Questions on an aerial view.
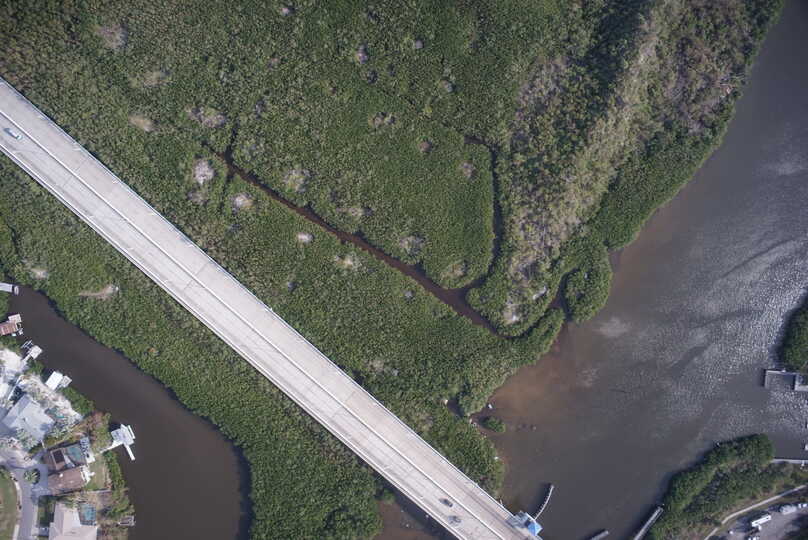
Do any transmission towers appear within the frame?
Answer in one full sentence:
No, no transmission tower is visible in the scene.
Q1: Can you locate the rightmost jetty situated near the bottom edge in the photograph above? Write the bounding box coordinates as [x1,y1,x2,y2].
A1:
[626,504,664,540]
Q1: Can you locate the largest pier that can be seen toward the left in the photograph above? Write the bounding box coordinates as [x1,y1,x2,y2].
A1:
[99,423,137,461]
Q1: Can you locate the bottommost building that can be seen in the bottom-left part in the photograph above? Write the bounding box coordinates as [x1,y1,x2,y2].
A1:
[55,501,100,540]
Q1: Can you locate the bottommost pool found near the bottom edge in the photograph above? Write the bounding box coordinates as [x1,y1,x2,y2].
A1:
[80,503,97,527]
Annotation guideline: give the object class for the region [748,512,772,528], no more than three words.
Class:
camper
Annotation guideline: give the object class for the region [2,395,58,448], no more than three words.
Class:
house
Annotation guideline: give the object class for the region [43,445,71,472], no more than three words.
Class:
building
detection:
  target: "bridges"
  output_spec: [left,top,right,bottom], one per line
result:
[0,76,541,540]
